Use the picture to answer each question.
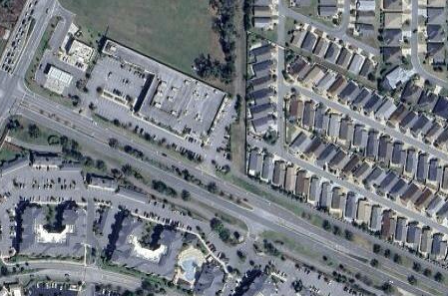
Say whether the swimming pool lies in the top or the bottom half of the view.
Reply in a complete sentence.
It is in the bottom half that the swimming pool appears.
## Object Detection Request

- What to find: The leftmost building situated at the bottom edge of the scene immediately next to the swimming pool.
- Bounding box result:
[108,217,183,282]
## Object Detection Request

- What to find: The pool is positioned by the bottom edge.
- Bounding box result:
[177,247,203,287]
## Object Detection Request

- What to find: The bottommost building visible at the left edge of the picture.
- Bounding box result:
[18,207,87,257]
